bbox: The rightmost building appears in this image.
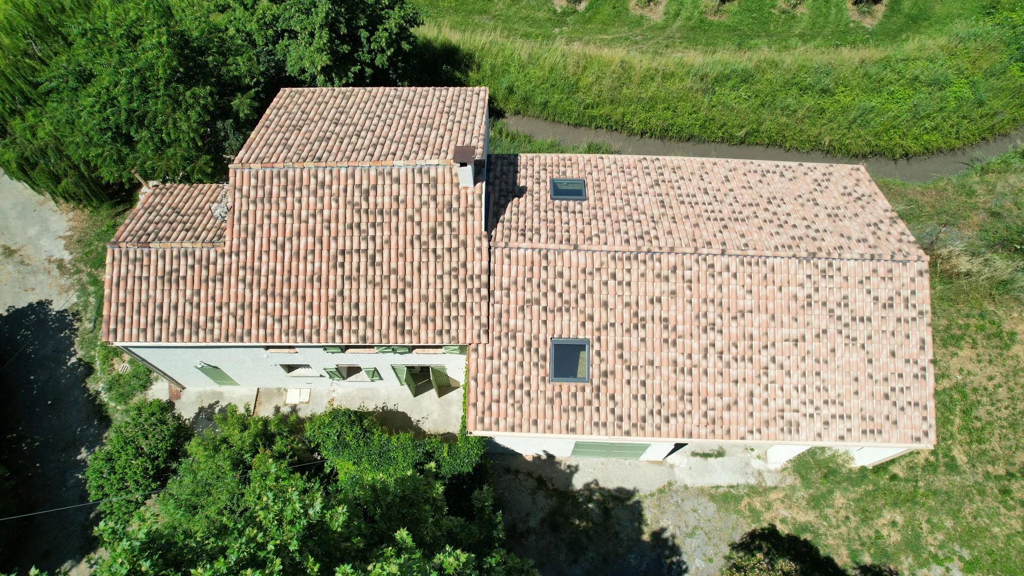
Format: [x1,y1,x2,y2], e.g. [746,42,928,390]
[469,152,939,474]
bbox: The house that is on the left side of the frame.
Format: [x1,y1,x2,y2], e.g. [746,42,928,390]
[103,86,494,399]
